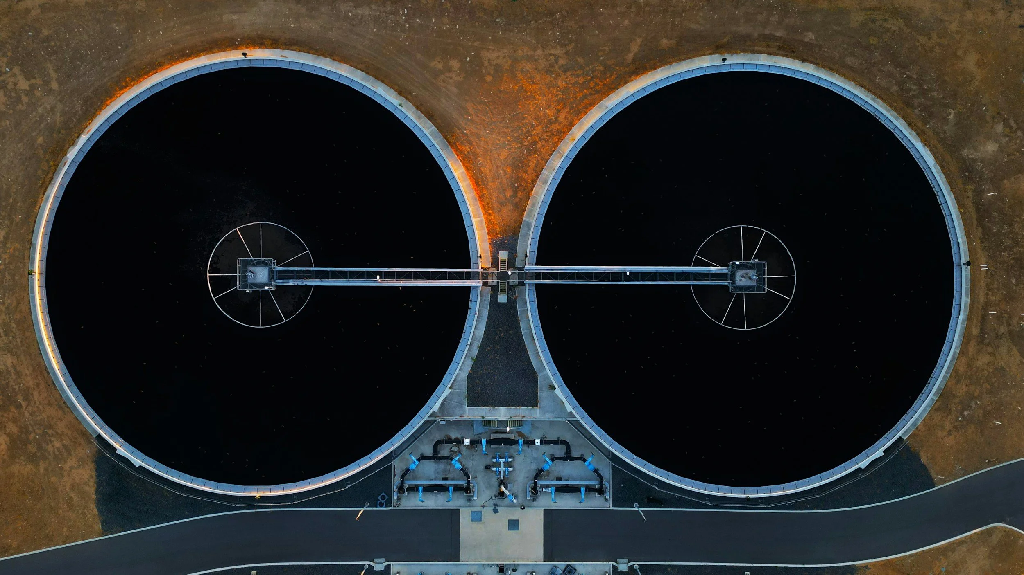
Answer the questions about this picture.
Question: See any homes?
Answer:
No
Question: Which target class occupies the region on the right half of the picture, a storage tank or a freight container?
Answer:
storage tank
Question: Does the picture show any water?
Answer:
Yes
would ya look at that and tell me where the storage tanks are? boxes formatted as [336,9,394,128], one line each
[526,61,966,498]
[34,56,481,496]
